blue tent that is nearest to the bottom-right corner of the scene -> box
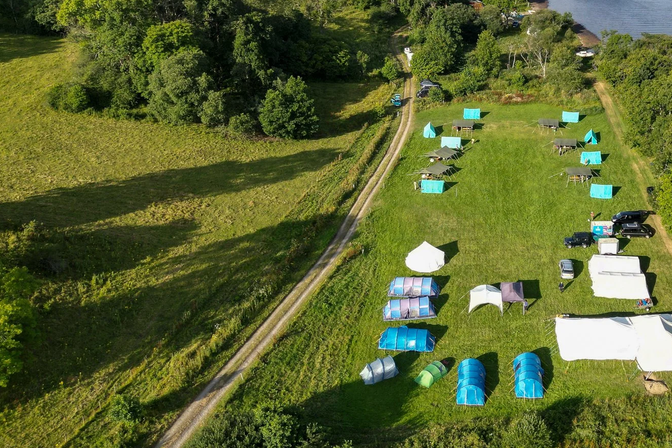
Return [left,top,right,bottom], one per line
[504,350,552,403]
